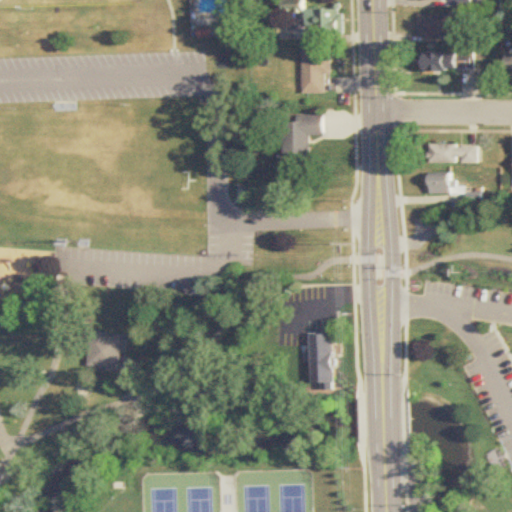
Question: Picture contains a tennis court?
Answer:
Yes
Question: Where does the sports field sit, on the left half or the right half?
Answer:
left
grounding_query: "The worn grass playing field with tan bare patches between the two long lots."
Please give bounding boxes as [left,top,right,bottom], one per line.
[4,116,203,236]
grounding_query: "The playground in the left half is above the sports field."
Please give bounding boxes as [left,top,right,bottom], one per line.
[192,0,216,36]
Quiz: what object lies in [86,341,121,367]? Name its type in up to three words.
building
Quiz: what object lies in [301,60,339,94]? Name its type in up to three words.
house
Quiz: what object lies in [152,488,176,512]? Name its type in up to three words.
tennis court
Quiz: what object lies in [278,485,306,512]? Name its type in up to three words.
tennis court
